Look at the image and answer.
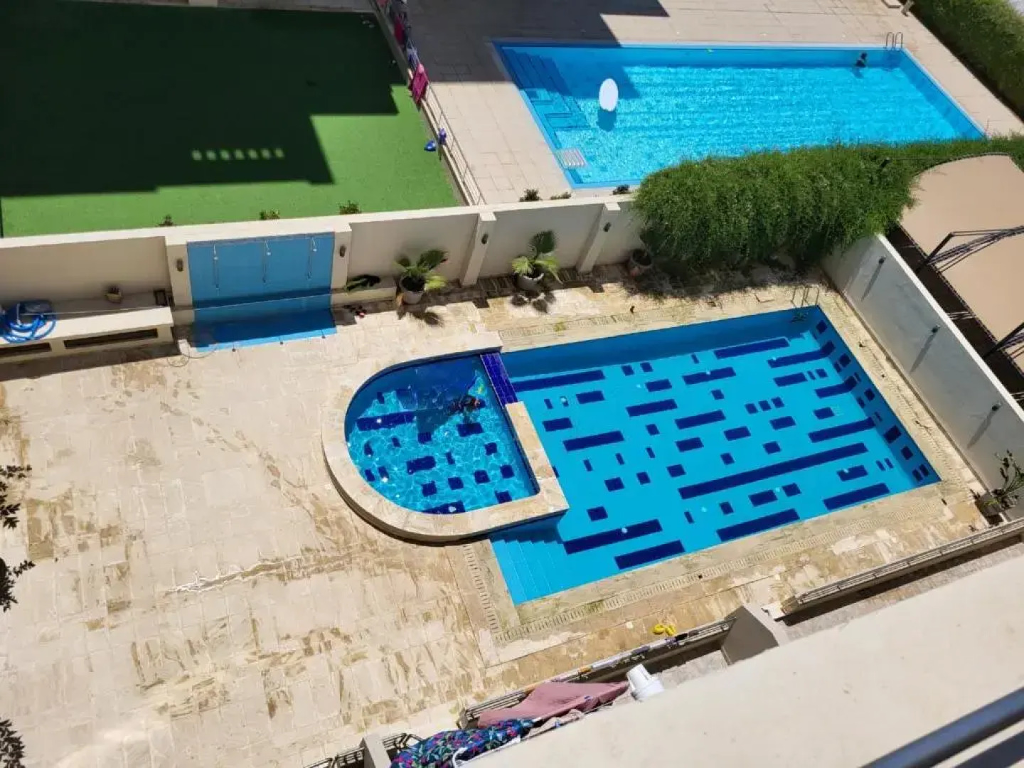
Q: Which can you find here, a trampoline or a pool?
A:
pool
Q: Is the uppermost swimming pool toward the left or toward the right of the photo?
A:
right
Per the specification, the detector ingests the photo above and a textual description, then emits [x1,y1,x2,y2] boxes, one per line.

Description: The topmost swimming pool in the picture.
[488,39,982,192]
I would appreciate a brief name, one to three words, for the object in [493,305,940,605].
swimming pool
